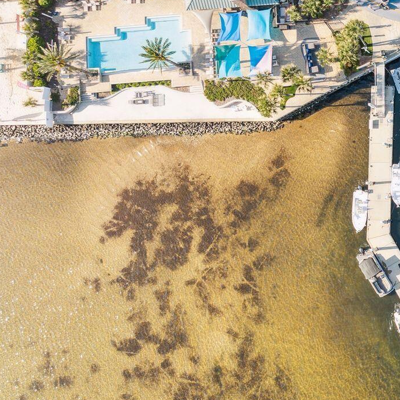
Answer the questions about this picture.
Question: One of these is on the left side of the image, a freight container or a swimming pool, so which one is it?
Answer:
swimming pool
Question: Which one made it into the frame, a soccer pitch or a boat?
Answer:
boat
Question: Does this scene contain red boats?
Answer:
No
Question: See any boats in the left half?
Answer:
No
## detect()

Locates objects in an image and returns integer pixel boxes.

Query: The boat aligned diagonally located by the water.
[358,249,393,295]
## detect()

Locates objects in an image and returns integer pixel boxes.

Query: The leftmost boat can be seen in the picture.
[351,183,368,234]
